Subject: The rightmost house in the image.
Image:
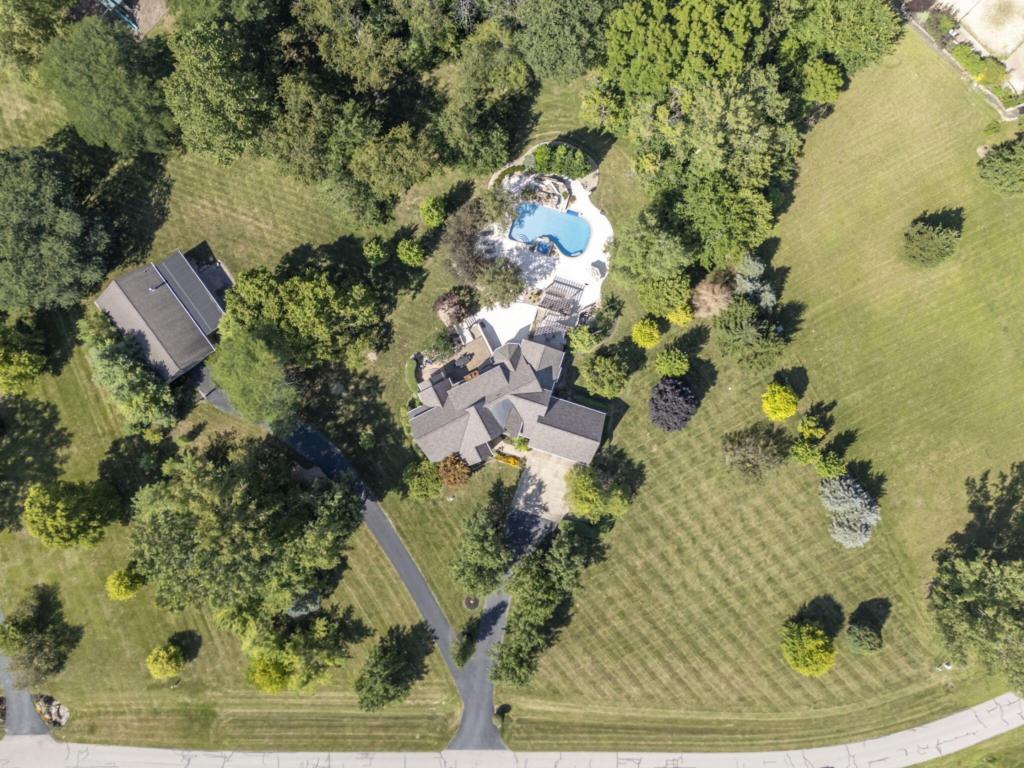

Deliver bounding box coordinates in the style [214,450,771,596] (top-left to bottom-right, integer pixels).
[408,339,606,467]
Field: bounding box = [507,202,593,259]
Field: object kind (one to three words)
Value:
swimming pool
